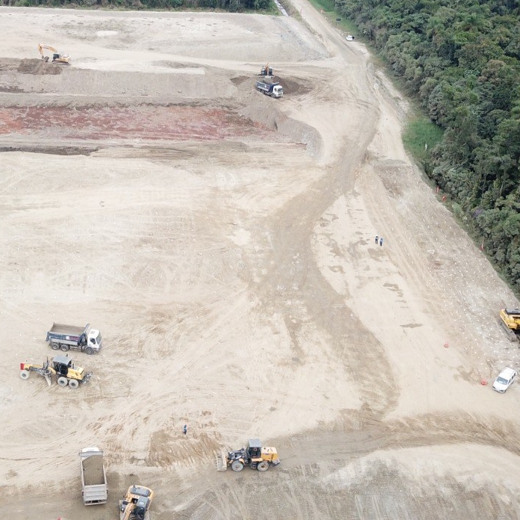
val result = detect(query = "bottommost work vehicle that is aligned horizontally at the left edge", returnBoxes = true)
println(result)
[17,358,90,392]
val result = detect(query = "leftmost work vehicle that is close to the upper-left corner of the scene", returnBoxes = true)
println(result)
[36,42,70,65]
